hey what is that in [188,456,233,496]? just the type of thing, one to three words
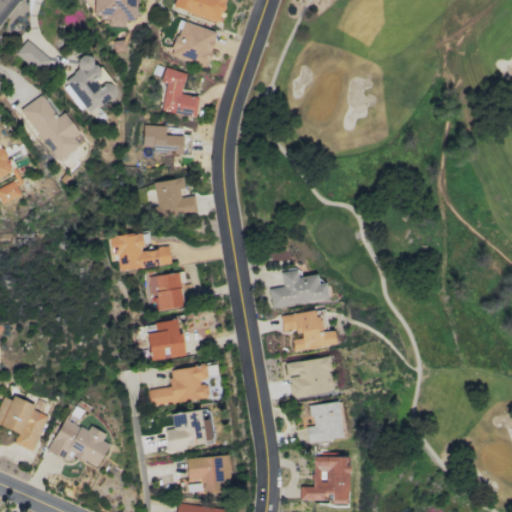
house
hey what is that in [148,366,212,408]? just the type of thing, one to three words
house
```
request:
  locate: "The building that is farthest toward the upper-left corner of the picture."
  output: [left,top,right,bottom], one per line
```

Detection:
[17,40,56,72]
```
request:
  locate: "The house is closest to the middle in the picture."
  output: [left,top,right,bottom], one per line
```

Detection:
[270,270,331,307]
